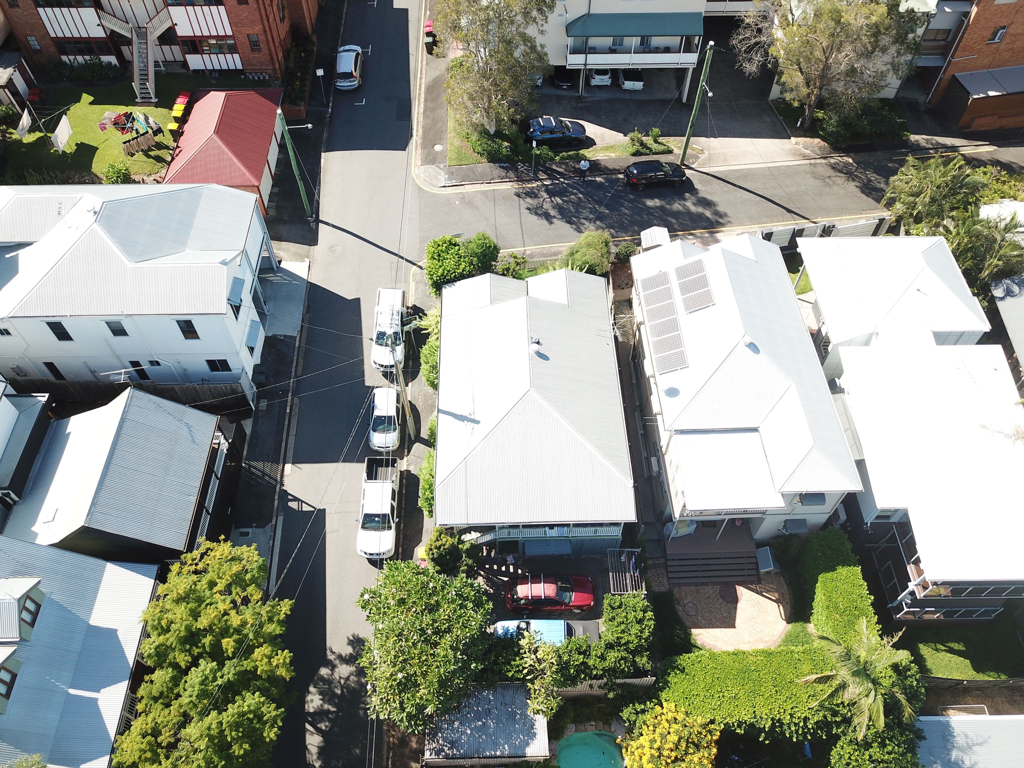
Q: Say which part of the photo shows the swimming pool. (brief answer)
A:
bottom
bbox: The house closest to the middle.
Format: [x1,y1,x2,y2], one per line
[434,268,638,556]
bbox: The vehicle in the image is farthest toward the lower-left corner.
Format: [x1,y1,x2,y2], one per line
[352,461,399,559]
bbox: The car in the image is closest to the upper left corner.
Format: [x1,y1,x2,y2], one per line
[334,50,363,91]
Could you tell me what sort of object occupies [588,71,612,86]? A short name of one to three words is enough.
car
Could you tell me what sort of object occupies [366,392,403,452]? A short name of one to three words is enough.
car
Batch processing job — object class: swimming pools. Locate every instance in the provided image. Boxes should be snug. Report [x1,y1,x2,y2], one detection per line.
[557,729,625,768]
